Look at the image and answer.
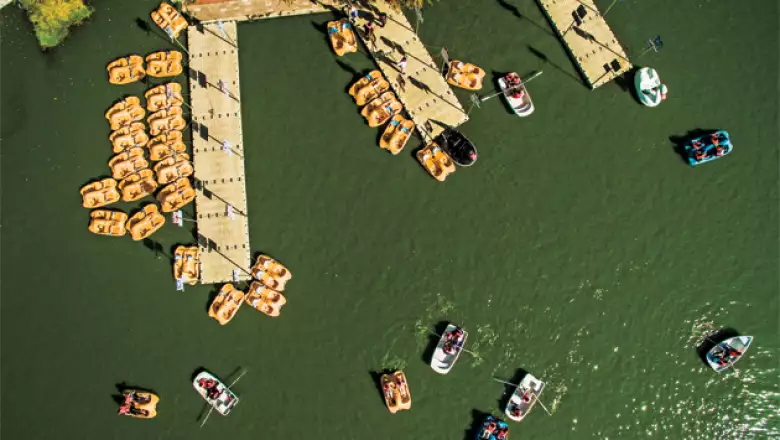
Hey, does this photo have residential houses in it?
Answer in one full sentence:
No, I find no residential house anywhere in the image.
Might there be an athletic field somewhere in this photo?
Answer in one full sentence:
No, there's no athletic field here.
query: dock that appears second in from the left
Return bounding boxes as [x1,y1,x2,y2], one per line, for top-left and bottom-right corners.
[340,0,470,145]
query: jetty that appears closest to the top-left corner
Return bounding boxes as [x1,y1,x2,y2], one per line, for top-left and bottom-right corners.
[185,23,252,285]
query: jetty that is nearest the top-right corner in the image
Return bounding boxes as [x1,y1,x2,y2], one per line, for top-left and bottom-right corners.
[533,0,634,91]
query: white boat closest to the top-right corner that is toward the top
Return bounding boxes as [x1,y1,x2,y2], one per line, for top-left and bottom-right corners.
[633,67,666,108]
